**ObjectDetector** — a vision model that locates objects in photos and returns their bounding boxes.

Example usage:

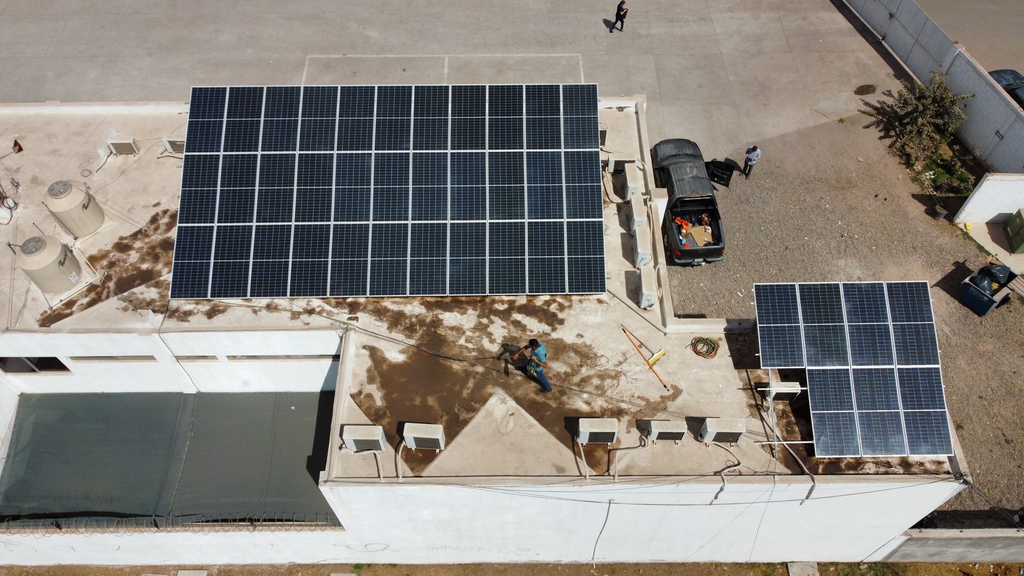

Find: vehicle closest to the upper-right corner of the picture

[991,73,1024,114]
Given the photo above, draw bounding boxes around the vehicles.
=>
[991,73,1024,114]
[652,140,739,269]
